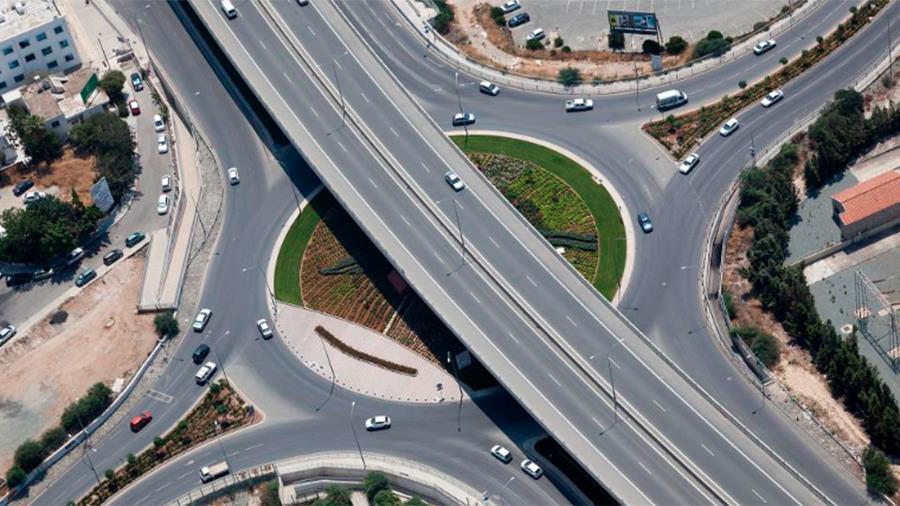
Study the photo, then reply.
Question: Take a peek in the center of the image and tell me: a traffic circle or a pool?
traffic circle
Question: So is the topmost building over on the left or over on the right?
left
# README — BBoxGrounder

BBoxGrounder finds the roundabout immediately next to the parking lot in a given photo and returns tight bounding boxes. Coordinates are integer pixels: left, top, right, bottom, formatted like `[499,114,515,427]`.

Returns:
[266,130,635,403]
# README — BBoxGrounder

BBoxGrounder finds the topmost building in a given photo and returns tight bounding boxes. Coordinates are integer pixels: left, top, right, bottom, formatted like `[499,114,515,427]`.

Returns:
[0,0,82,95]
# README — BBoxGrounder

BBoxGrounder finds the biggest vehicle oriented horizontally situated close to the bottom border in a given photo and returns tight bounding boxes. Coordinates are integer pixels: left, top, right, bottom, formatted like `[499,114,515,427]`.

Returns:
[197,459,233,481]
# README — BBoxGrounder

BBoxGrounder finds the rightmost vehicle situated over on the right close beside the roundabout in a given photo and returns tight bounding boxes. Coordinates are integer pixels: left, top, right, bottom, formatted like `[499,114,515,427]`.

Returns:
[637,213,652,233]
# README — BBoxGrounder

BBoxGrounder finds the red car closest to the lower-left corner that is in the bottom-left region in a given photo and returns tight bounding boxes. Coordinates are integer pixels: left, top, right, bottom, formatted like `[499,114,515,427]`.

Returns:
[129,412,153,431]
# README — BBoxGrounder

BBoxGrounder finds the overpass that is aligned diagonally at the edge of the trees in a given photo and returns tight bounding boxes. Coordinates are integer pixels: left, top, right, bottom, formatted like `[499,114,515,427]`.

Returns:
[173,0,839,506]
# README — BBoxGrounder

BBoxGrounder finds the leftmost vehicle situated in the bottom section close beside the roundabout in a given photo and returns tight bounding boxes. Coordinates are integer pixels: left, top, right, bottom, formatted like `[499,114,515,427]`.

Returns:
[256,320,273,340]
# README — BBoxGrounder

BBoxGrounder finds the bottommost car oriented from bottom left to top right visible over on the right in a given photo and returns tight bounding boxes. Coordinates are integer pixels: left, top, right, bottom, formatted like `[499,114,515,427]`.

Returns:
[679,155,700,173]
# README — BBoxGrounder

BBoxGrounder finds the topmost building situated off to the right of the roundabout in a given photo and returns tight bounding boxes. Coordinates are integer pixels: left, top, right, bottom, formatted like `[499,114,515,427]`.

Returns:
[823,165,900,237]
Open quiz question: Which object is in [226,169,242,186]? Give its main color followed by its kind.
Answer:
white car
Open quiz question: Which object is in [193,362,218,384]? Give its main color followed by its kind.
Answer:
white car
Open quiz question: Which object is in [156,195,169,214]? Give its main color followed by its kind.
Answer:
white vehicle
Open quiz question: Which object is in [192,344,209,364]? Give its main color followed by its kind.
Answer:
black car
